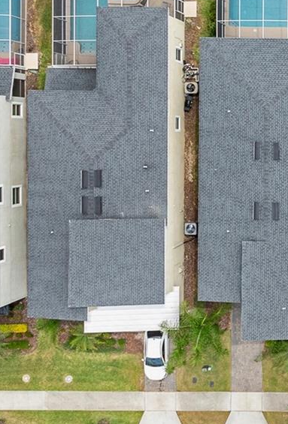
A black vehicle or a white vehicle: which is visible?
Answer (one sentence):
It is a white vehicle that can be seen here.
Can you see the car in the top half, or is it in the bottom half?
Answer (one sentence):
You can find the car in the bottom half.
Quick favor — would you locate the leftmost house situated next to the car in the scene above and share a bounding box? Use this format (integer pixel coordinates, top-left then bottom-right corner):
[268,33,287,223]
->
[25,6,186,335]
